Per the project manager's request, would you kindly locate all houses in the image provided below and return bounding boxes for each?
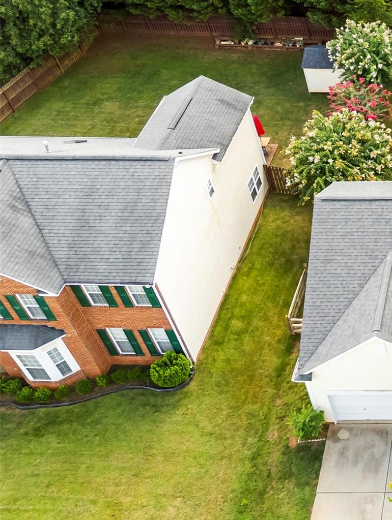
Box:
[290,181,392,424]
[0,76,271,387]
